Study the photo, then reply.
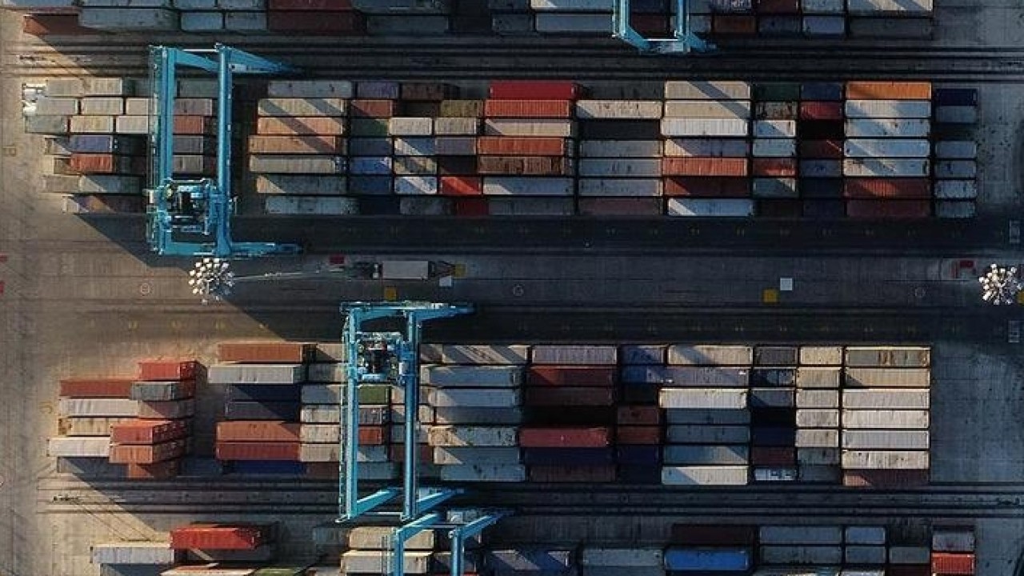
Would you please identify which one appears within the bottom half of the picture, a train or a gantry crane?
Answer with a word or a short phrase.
gantry crane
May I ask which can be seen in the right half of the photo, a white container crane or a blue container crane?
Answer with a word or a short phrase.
blue container crane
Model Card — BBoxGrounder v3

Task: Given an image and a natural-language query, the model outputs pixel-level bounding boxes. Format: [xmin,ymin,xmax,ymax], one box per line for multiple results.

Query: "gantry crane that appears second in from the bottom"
[336,299,476,523]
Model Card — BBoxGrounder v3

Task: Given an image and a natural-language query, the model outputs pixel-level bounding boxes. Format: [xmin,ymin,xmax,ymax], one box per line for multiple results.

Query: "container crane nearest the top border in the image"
[610,0,722,55]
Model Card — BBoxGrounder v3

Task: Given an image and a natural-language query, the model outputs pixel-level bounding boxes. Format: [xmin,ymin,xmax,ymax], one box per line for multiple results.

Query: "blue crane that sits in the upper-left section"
[146,42,304,259]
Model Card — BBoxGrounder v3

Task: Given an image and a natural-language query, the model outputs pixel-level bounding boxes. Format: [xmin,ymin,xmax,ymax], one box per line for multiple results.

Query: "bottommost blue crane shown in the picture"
[383,507,516,576]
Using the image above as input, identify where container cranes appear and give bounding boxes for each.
[610,0,722,55]
[146,42,304,259]
[336,299,476,523]
[383,507,516,576]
